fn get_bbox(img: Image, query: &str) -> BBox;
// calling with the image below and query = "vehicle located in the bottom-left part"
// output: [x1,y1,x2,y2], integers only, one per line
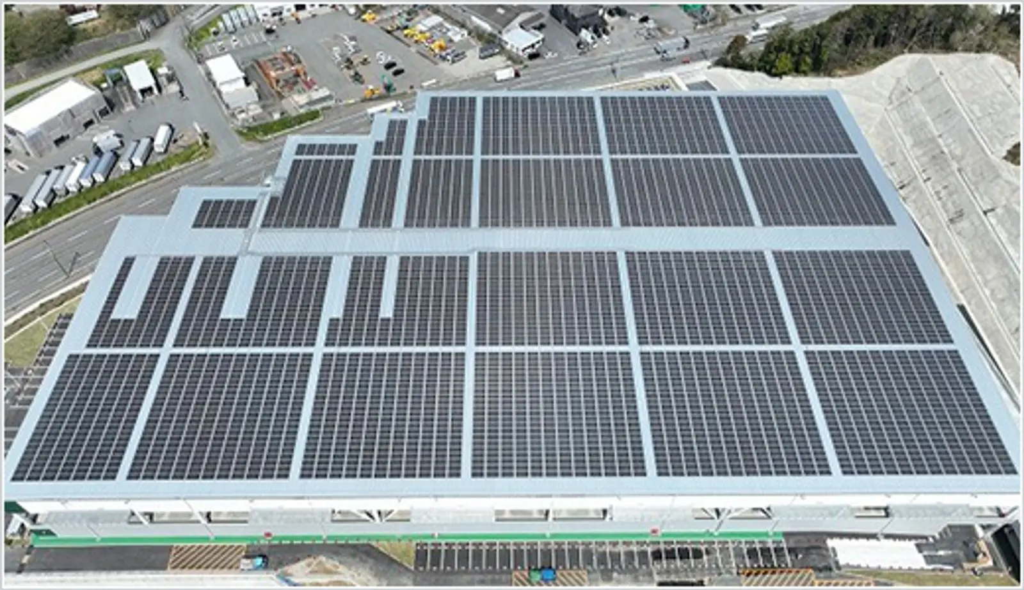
[239,555,267,570]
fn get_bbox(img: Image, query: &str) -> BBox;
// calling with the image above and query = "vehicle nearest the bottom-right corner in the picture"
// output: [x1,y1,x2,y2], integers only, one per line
[530,568,556,583]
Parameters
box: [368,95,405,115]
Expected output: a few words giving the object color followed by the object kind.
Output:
white vehicle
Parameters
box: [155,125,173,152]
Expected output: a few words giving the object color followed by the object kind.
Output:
white vehicle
